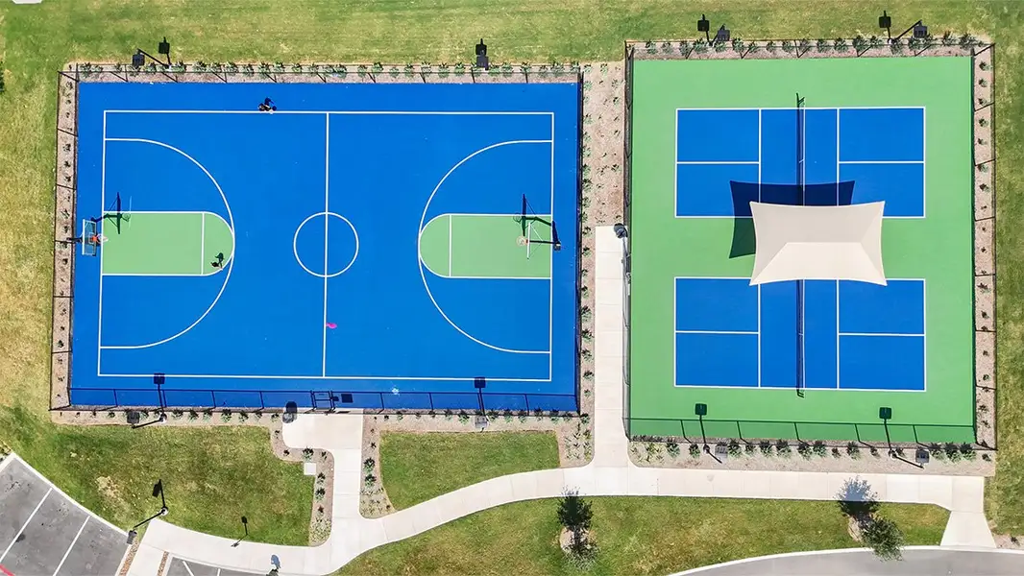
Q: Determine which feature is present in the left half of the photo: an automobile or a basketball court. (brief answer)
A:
basketball court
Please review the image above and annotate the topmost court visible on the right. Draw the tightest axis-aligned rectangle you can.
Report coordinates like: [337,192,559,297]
[675,108,926,218]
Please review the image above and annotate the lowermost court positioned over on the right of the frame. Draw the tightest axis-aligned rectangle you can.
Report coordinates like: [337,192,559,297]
[674,277,925,391]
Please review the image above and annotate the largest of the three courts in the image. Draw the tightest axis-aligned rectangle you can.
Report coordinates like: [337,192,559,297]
[72,83,580,412]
